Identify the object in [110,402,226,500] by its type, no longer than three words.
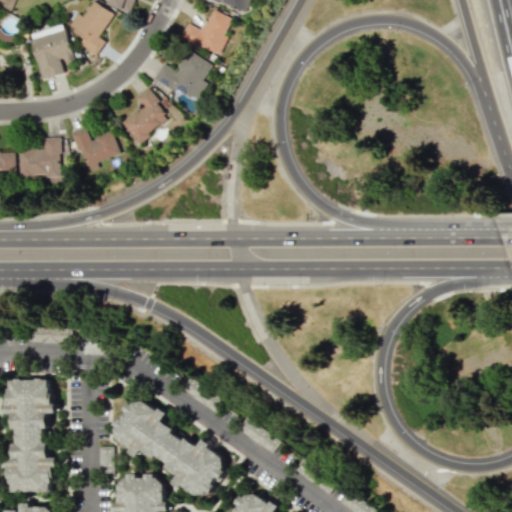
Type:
building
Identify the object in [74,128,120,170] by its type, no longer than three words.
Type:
house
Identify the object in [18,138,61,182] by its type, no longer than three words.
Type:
house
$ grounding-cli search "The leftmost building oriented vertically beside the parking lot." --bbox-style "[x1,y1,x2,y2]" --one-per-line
[1,380,54,493]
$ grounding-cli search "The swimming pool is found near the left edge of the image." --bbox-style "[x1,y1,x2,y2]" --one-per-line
[1,14,20,34]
